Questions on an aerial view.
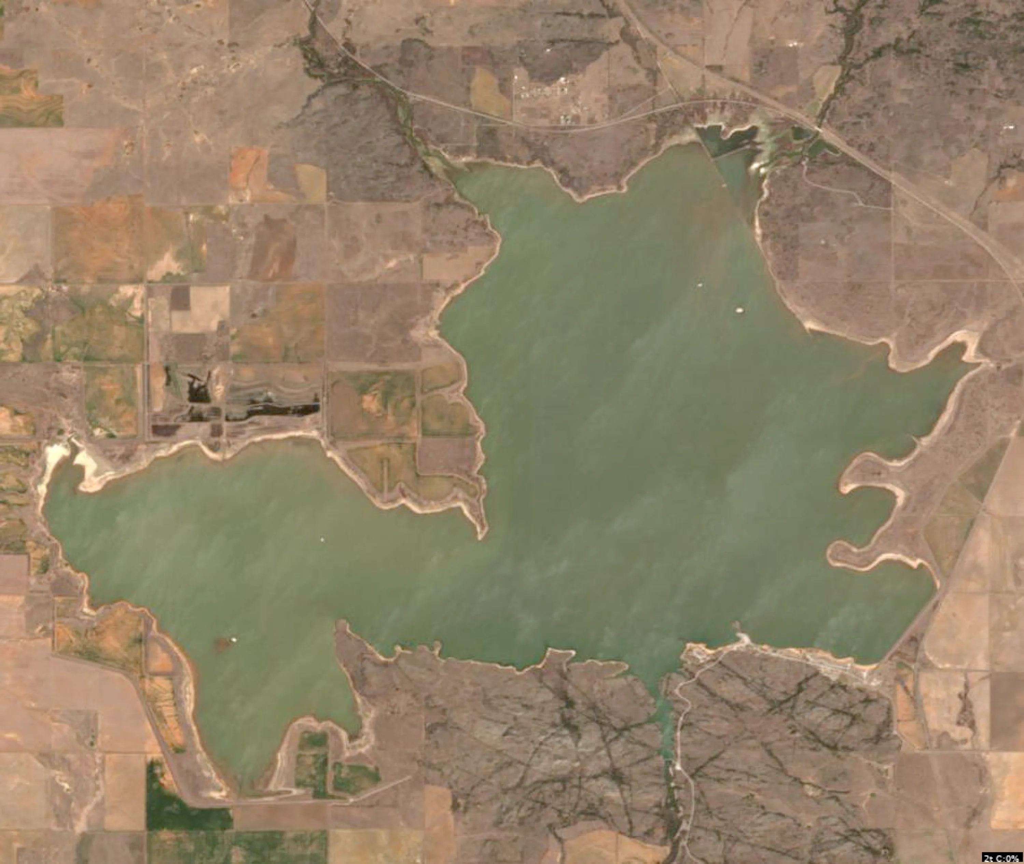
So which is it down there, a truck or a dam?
dam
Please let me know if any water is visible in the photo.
Yes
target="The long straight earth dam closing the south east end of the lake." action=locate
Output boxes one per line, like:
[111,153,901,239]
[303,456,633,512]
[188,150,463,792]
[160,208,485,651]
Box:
[878,578,949,665]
